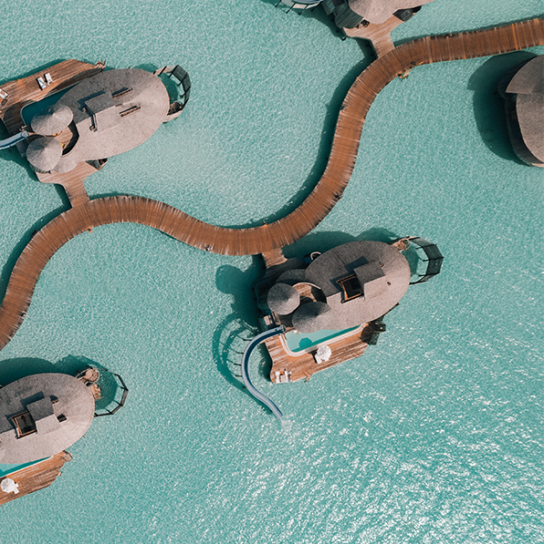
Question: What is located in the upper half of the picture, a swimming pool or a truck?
swimming pool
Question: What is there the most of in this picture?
water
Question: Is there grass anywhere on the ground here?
No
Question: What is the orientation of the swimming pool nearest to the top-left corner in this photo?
diagonally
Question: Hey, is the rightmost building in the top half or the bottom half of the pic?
top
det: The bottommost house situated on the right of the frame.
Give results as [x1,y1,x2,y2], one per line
[250,242,414,386]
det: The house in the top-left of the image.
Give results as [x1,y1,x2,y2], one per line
[0,61,178,213]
